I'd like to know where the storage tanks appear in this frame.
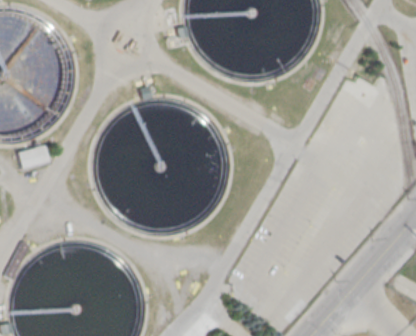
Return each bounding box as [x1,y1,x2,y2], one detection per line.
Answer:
[88,93,232,240]
[4,236,149,336]
[0,0,78,147]
[180,0,324,86]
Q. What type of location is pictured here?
industrial area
